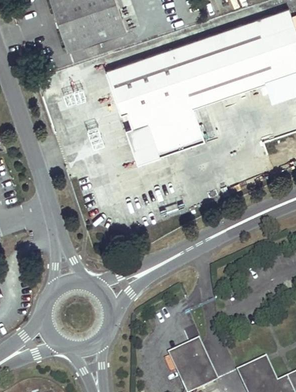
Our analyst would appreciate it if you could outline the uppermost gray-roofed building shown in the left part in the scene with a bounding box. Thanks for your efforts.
[50,0,127,52]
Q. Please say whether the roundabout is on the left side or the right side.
left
